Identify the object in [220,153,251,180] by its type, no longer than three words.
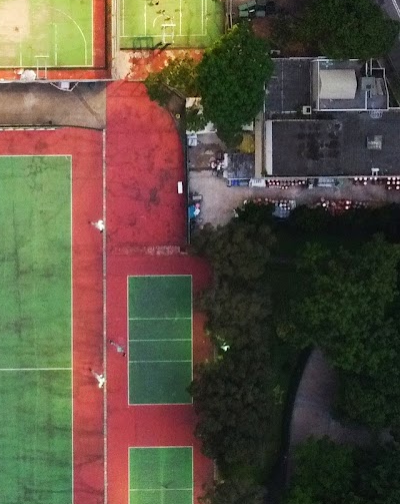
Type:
shed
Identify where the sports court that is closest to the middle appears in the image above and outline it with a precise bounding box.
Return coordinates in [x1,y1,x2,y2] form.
[128,274,193,405]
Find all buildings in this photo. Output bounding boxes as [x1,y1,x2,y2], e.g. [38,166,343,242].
[256,57,400,178]
[220,153,251,180]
